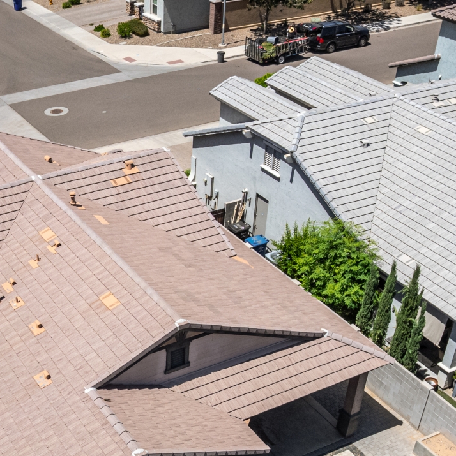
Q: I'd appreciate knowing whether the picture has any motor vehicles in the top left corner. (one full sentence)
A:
No, no motor vehicle is visible in the top left corner.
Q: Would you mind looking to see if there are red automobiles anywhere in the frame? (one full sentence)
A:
No, no red automobile is visible in the view.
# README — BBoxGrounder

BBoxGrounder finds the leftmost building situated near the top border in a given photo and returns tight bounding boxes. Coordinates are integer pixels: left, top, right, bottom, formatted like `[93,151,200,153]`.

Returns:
[136,0,208,34]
